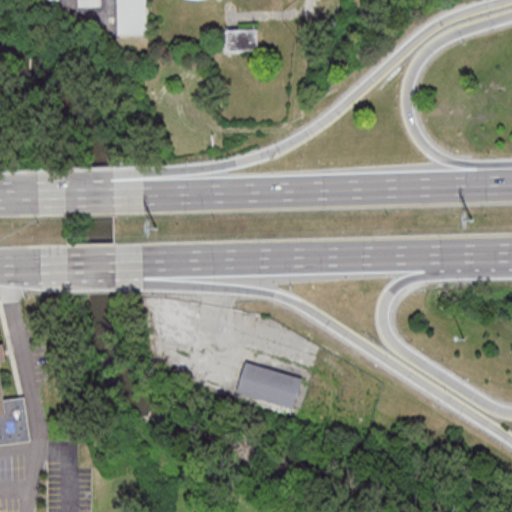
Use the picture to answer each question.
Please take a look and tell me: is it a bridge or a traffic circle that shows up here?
bridge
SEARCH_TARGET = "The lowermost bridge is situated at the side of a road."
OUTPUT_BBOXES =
[67,242,116,294]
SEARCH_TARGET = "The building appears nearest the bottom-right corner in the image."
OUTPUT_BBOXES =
[237,360,304,410]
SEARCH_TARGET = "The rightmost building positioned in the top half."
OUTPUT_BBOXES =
[222,28,260,56]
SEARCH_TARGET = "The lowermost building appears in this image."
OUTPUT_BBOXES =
[0,398,32,443]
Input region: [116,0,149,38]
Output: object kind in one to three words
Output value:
building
